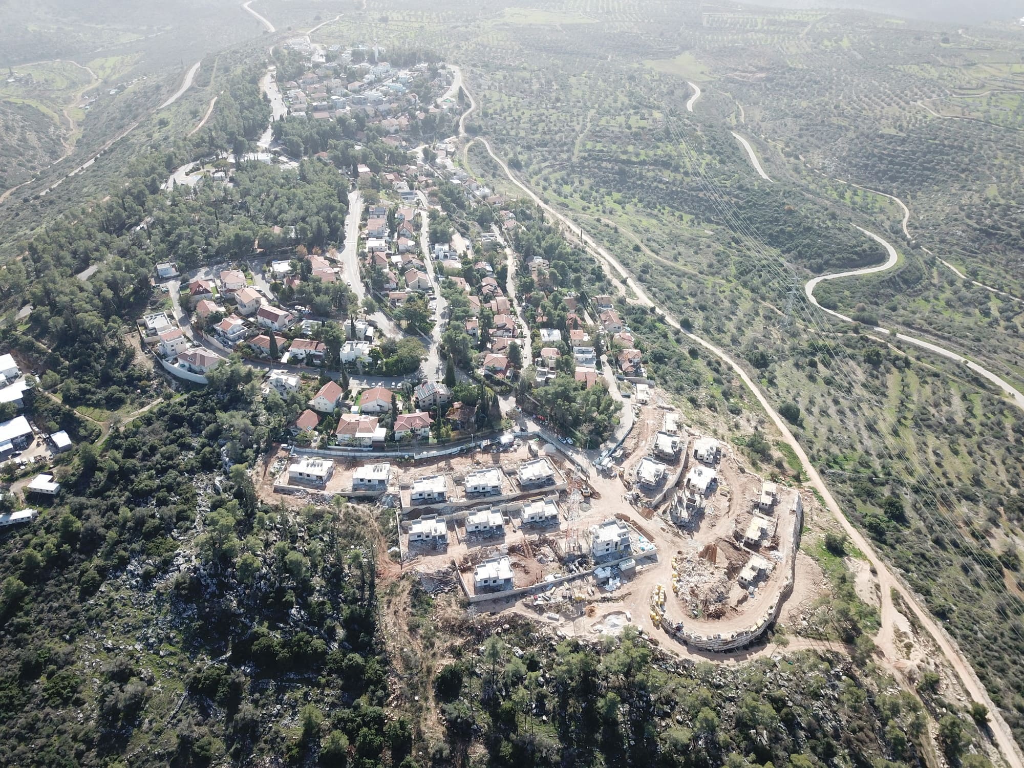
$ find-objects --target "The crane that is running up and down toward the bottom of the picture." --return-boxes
[559,445,581,590]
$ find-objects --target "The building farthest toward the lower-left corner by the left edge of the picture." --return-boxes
[0,502,42,530]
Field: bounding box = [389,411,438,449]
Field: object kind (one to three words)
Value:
house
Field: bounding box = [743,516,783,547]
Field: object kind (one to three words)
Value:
house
